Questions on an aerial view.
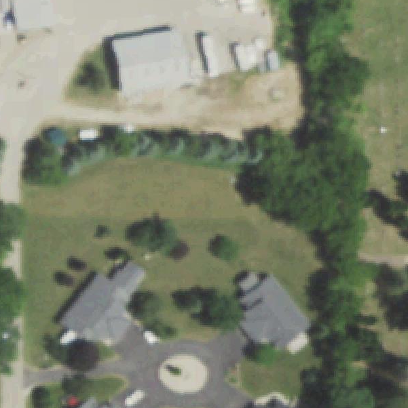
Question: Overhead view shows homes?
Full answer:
Yes, the picture does show a home.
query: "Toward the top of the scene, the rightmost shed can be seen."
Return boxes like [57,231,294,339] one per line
[108,25,190,95]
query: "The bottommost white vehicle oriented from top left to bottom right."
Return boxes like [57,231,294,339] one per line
[143,331,159,345]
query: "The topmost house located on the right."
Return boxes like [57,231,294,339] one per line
[234,272,307,352]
